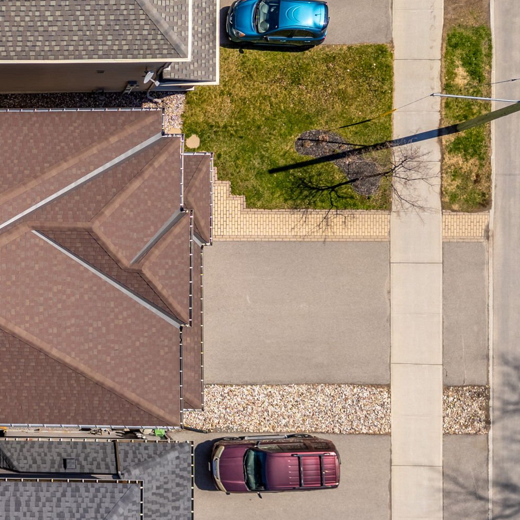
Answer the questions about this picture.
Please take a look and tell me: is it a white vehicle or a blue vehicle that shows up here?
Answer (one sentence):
I can see a blue vehicle in this picture.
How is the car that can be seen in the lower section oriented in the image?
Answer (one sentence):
In this picture, the car that can be seen in the lower section is oriented horizontally.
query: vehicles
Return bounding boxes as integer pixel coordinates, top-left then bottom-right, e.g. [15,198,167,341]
[211,434,340,499]
[225,0,332,52]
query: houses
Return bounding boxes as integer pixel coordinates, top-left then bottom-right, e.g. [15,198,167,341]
[0,433,194,520]
[0,0,220,108]
[0,107,213,426]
